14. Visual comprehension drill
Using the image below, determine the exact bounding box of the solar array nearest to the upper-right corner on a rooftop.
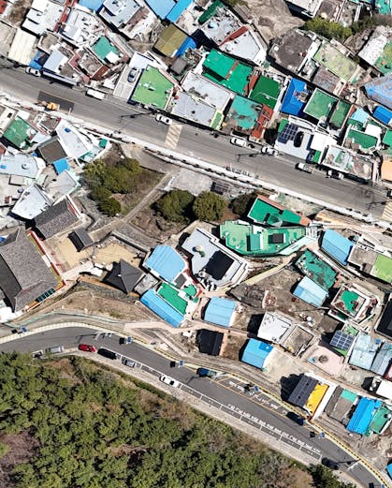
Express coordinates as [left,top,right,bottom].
[276,123,297,143]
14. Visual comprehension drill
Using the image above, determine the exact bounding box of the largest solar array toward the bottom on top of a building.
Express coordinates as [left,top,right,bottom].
[330,330,353,350]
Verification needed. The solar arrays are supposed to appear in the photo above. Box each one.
[276,123,297,143]
[330,330,353,350]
